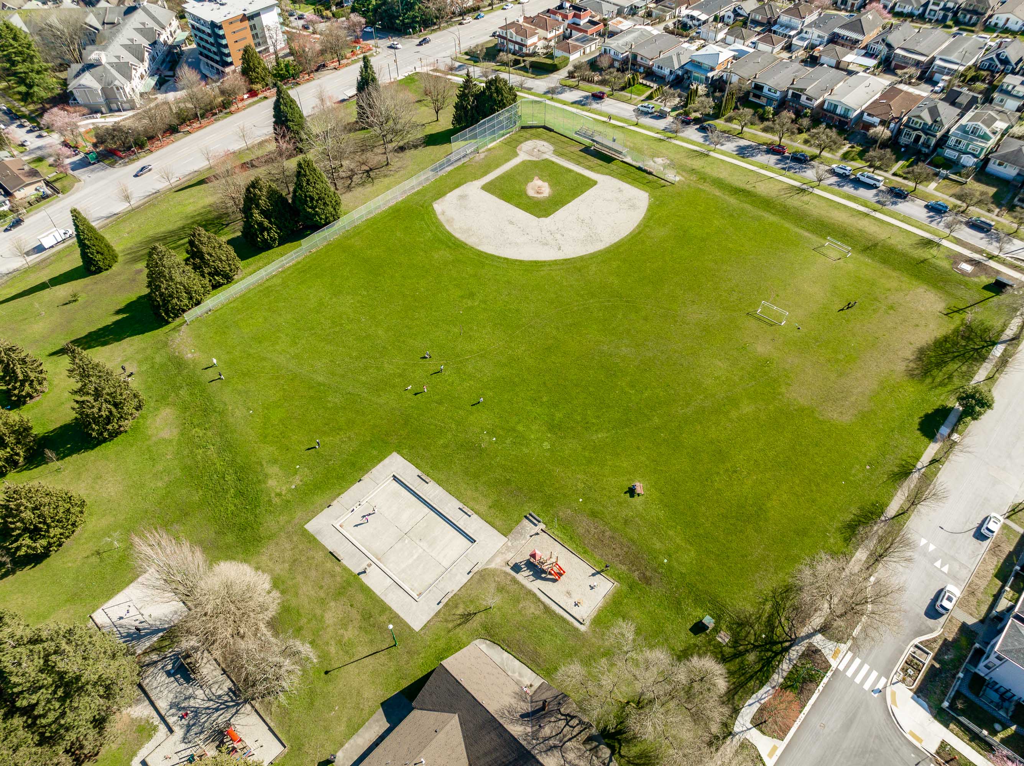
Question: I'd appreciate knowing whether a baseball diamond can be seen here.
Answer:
Yes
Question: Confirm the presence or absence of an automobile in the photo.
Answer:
Yes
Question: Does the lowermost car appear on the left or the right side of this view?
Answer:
right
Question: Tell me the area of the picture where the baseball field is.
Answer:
top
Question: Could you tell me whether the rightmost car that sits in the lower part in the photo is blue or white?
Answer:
white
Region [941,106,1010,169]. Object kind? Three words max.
house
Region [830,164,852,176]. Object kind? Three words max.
vehicle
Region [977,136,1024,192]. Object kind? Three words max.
house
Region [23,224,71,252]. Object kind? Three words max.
truck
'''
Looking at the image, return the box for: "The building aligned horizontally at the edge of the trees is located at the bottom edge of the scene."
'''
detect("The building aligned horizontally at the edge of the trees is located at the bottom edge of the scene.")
[359,641,621,766]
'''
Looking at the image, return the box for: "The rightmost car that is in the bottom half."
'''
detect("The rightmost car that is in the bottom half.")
[977,514,1004,540]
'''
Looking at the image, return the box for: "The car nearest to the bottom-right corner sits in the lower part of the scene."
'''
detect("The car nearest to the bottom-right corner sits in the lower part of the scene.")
[930,589,964,615]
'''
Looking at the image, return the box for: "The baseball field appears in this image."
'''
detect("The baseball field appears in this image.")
[432,141,649,262]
